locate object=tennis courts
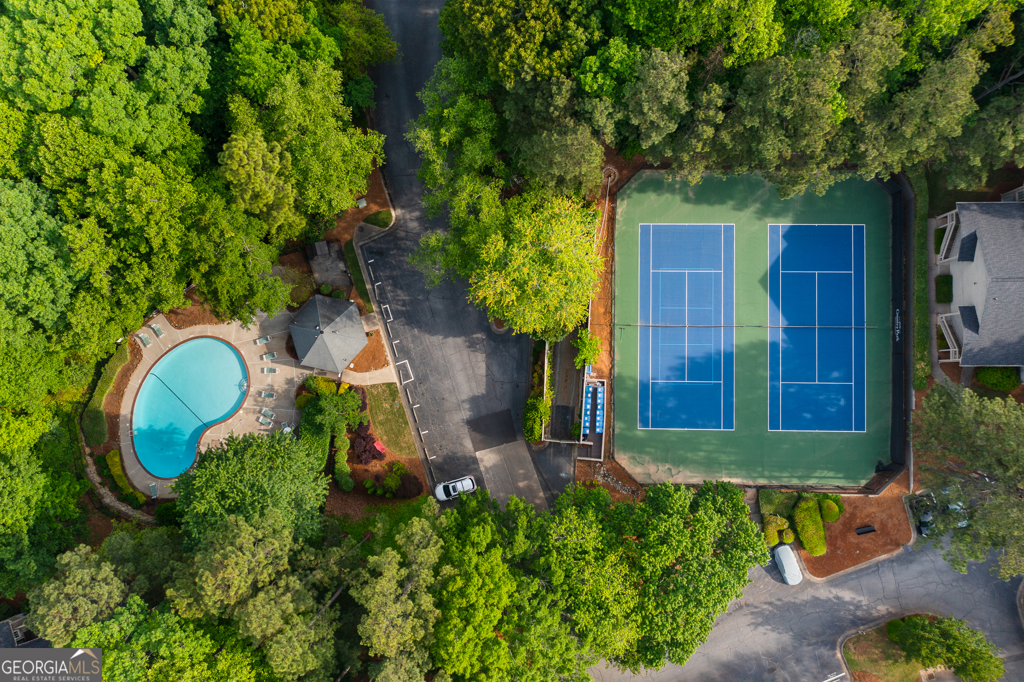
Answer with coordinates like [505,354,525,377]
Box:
[614,171,751,485]
[751,173,891,486]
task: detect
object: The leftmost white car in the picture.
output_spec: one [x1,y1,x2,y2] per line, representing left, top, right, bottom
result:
[434,475,478,500]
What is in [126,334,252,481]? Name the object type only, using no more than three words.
swimming pool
